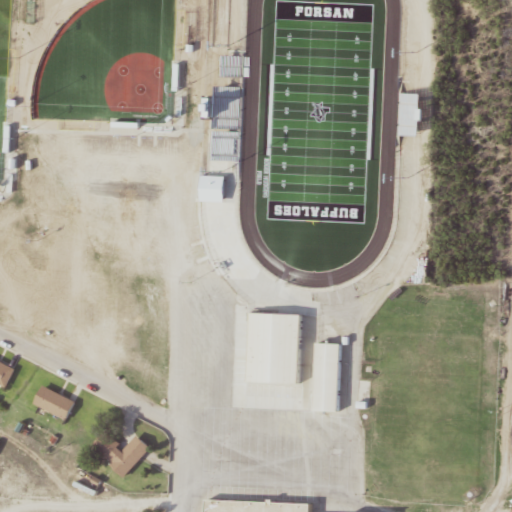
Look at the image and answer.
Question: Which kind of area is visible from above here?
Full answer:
The picture captures a sports ground.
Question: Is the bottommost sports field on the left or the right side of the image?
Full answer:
It is on the right.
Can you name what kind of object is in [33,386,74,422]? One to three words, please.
house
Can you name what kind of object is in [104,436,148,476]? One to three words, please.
house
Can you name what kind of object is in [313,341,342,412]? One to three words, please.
building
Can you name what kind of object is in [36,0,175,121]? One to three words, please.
baseball field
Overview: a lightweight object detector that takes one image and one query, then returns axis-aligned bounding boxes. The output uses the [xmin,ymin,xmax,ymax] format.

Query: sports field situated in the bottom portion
[356,284,500,502]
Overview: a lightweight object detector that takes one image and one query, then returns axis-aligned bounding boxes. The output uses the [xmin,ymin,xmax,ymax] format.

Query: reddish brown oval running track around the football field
[240,0,400,286]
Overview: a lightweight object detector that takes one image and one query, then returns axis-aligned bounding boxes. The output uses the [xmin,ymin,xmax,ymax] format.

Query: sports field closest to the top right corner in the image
[254,0,386,272]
